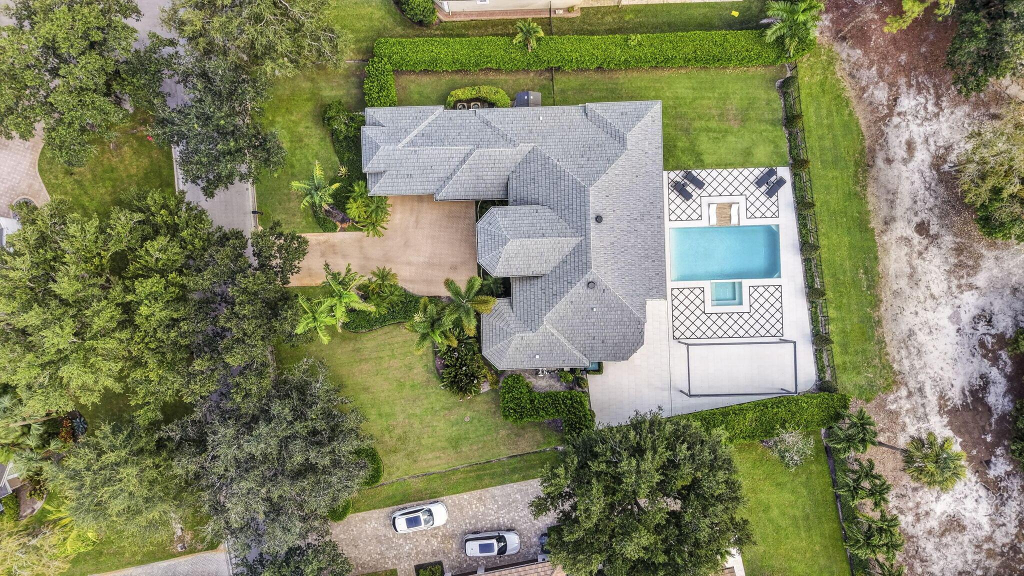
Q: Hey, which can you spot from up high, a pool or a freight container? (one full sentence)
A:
There is a pool in the scene.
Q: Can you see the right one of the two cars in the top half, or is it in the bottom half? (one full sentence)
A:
The bottom half of the photo is where the right one of the two cars is.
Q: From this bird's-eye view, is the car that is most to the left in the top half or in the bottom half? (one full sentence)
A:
The car that is most to the left sits in the bottom half of the picture.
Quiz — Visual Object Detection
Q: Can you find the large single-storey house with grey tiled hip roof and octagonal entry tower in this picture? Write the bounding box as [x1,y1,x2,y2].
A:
[361,100,668,371]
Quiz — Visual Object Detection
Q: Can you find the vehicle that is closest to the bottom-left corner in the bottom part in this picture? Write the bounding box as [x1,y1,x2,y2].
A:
[389,502,447,536]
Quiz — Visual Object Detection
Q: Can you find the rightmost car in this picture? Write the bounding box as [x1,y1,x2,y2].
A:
[464,530,520,561]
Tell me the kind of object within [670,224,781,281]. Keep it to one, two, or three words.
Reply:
swimming pool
